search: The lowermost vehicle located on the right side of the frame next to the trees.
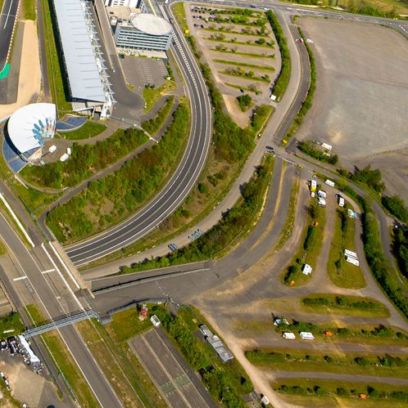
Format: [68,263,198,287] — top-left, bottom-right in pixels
[258,389,274,408]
